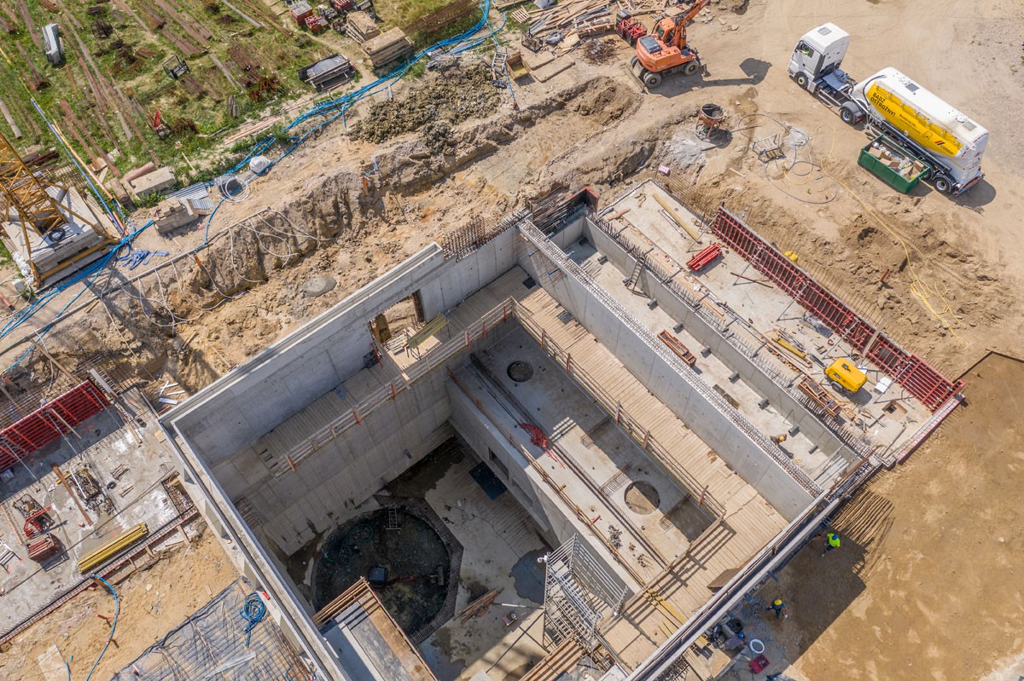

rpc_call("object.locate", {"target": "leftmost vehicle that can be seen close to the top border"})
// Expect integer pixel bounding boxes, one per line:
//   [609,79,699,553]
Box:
[616,0,708,100]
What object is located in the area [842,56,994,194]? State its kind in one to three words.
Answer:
trailer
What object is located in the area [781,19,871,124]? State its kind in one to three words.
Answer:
vehicle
